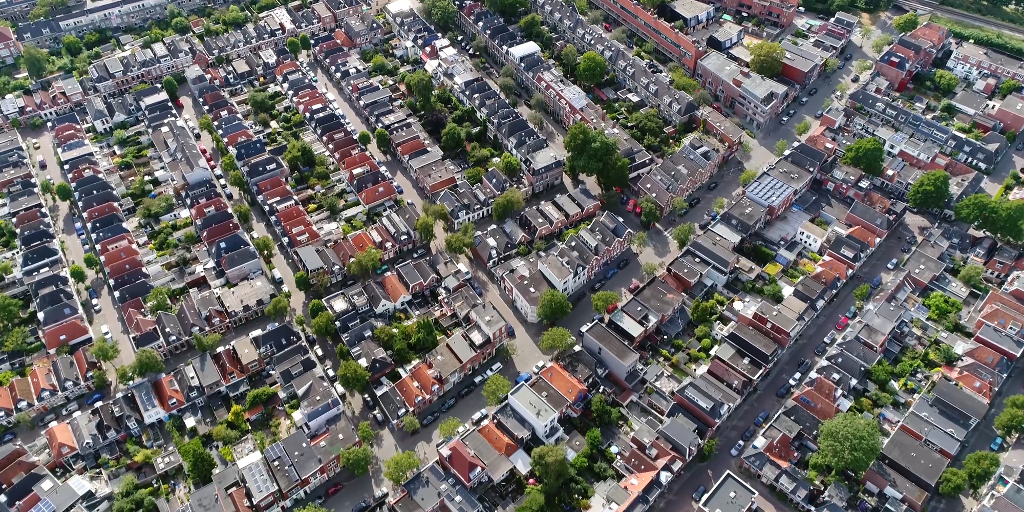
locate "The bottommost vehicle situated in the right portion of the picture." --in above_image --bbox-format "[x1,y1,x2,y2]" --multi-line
[691,484,707,502]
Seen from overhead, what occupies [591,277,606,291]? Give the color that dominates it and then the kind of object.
black car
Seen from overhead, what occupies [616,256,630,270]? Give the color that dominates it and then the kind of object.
black car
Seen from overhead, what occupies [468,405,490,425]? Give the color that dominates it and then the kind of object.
white vehicle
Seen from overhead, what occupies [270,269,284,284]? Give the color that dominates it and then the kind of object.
white vehicle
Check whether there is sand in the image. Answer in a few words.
No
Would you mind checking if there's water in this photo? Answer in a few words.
No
